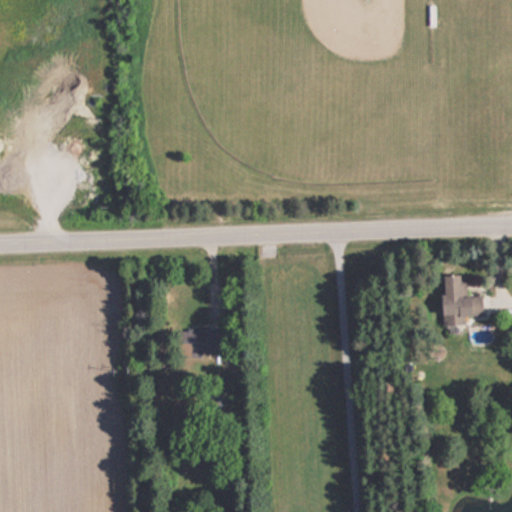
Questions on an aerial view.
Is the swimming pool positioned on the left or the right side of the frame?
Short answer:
right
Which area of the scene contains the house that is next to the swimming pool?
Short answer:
right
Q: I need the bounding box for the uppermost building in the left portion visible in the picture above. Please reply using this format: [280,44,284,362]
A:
[184,329,218,358]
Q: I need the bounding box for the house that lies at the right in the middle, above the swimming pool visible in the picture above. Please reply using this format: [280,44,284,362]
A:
[444,274,484,328]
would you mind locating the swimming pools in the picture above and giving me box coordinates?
[470,327,497,346]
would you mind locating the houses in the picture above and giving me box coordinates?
[444,274,484,328]
[184,329,218,358]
